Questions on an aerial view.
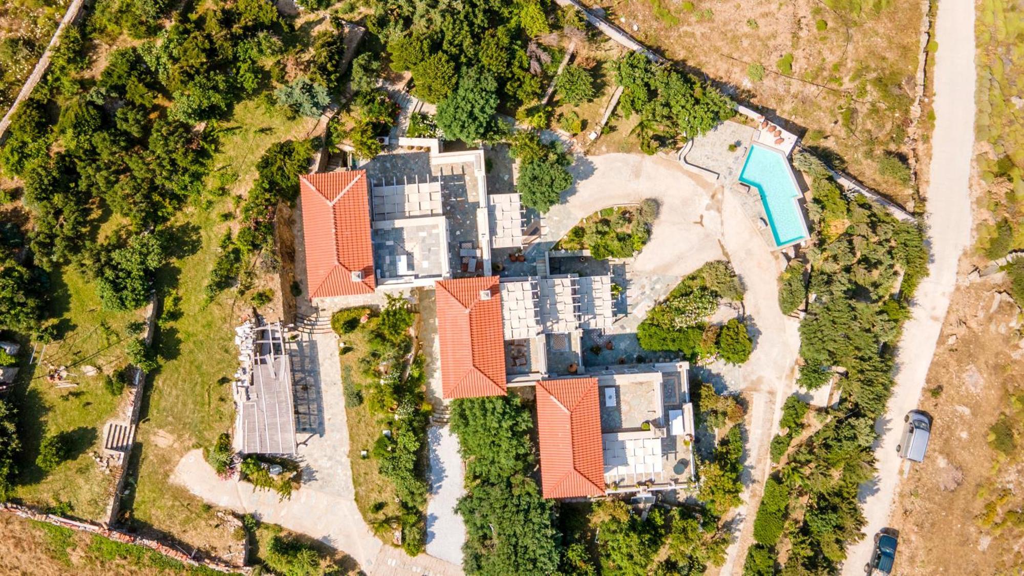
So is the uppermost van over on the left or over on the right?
right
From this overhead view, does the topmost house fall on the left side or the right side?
left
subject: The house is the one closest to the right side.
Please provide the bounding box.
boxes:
[535,374,606,500]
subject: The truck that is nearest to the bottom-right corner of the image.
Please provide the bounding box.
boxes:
[861,523,902,576]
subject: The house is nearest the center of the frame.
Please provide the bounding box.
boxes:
[435,275,508,400]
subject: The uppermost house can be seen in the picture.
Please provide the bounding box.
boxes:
[298,168,387,300]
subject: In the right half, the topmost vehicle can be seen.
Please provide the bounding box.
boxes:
[896,408,935,465]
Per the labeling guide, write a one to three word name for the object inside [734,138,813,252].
swimming pool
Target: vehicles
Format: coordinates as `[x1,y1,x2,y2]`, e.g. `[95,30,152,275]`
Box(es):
[861,523,902,576]
[896,408,935,465]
